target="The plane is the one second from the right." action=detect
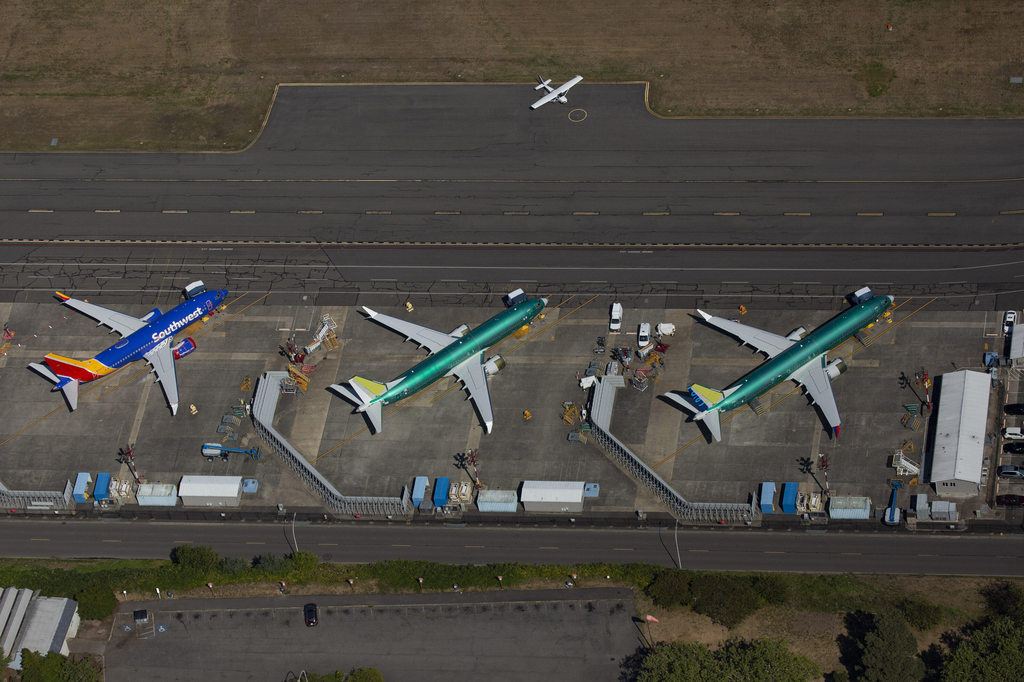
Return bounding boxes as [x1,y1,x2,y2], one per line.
[532,75,585,110]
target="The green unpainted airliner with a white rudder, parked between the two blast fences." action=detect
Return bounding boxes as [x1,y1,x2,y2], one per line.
[329,298,549,437]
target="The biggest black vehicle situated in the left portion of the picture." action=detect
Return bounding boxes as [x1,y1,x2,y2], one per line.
[303,604,318,629]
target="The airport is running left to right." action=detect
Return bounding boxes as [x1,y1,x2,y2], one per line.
[0,80,1024,529]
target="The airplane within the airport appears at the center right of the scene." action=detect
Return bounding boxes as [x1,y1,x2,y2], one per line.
[664,295,895,442]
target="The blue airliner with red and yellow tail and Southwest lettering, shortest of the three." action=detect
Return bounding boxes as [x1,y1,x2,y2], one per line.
[28,288,229,418]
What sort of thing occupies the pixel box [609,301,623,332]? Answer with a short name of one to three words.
vehicle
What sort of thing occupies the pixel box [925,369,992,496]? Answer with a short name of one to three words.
building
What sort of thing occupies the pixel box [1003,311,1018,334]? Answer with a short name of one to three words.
car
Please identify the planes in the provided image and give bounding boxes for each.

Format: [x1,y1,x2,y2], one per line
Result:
[28,288,229,418]
[329,298,549,437]
[532,75,585,110]
[664,295,895,442]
